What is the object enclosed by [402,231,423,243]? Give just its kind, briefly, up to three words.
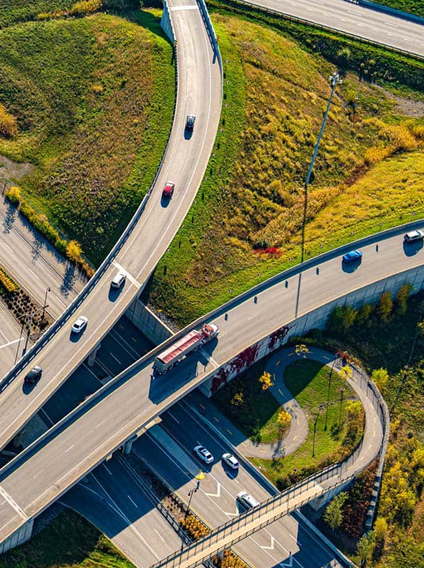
vehicle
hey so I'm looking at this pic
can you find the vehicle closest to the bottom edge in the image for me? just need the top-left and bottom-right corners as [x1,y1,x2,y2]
[236,491,260,513]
